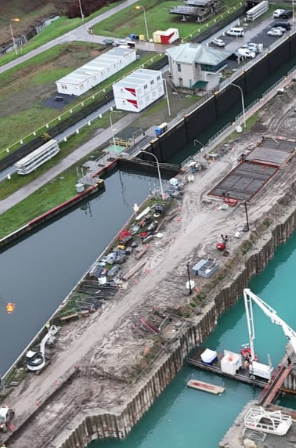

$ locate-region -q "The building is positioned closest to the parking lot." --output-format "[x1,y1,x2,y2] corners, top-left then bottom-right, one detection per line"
[159,38,228,102]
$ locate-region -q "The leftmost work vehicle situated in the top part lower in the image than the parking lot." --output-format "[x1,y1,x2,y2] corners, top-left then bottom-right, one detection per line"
[184,153,208,172]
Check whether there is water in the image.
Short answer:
Yes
